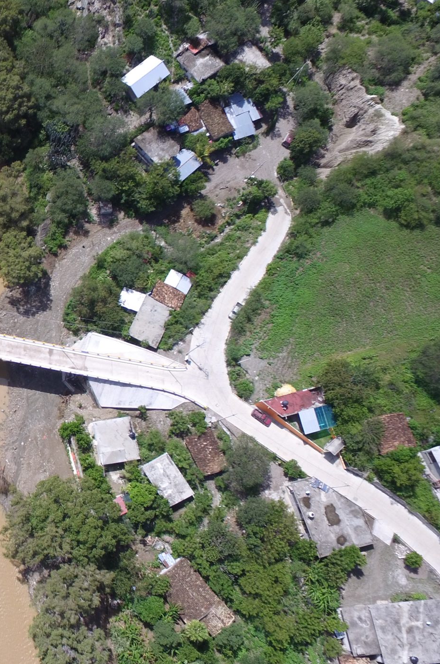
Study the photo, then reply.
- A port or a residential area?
residential area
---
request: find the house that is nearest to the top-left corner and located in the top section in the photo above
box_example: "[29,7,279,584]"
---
[119,56,169,107]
